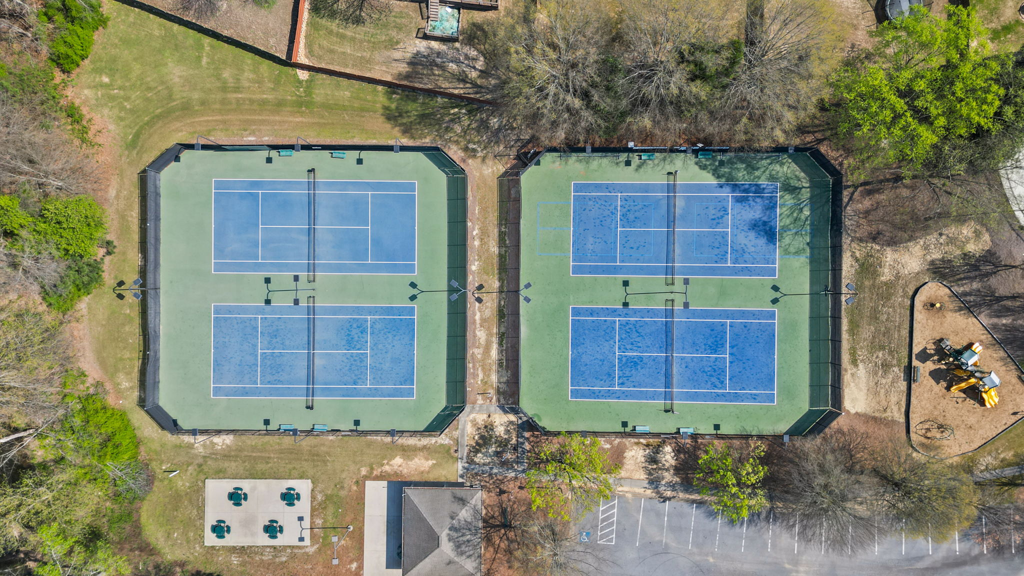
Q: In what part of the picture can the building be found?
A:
bottom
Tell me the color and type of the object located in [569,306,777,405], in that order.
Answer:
blue tennis court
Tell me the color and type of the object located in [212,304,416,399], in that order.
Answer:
blue tennis court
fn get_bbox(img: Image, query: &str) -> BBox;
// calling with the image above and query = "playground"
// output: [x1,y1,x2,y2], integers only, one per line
[937,340,1003,407]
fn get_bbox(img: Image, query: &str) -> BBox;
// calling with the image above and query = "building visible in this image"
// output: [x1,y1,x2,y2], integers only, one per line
[402,483,483,576]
